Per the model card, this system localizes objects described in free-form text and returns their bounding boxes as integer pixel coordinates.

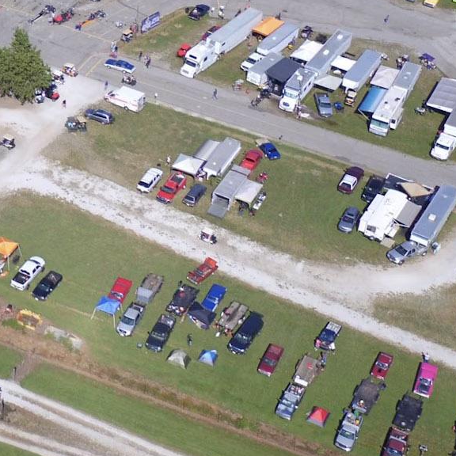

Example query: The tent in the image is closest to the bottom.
[305,407,331,427]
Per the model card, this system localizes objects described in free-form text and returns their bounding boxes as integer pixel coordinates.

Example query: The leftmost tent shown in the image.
[165,348,191,371]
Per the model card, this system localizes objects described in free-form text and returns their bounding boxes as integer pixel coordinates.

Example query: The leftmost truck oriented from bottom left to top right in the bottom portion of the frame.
[12,257,43,293]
